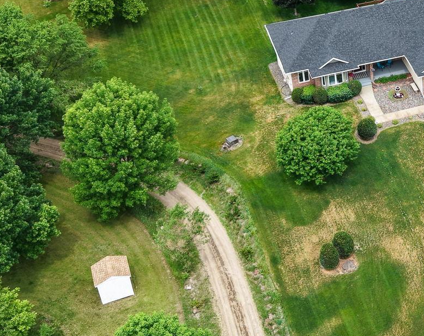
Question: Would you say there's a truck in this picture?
No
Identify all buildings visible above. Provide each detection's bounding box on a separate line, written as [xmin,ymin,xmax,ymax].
[265,0,424,100]
[90,256,135,304]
